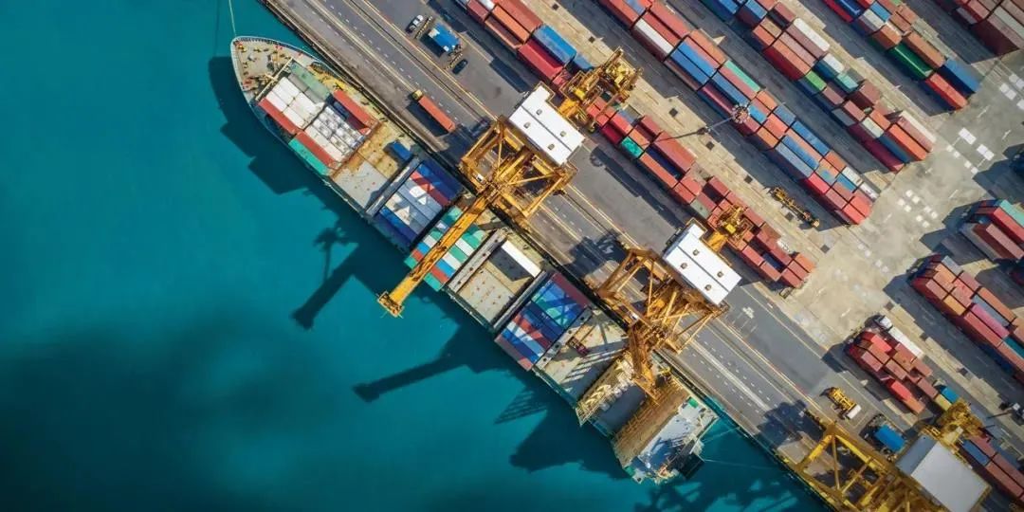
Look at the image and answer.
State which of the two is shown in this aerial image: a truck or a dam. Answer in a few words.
truck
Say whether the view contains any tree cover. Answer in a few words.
No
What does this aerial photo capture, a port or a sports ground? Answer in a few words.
port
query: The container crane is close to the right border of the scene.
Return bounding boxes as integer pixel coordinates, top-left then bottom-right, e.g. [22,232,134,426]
[772,405,987,512]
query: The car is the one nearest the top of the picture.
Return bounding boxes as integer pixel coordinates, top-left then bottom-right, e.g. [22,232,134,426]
[407,16,423,32]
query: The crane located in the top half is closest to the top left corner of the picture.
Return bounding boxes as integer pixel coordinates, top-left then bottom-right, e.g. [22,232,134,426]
[371,45,644,321]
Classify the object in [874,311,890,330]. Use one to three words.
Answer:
vehicle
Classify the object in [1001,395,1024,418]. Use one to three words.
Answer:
truck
